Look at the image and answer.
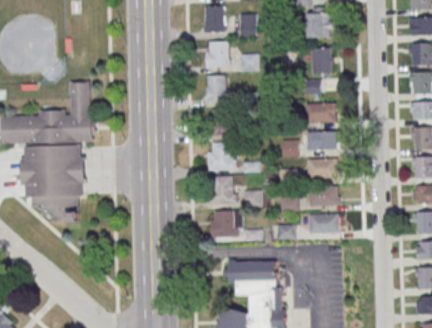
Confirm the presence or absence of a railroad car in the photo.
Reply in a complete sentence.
No, no railroad car can be seen from above.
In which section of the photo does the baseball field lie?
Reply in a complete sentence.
Look in the top left portion of the view to spot the baseball field.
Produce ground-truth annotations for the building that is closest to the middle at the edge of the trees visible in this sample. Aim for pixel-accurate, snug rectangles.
[206,142,237,174]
